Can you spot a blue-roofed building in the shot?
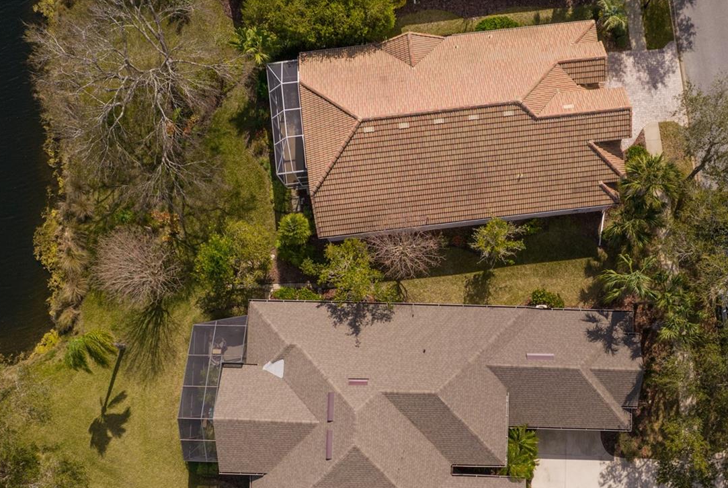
No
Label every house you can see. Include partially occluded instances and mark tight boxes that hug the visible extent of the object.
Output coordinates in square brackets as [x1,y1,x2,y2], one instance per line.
[297,18,632,246]
[213,298,644,488]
